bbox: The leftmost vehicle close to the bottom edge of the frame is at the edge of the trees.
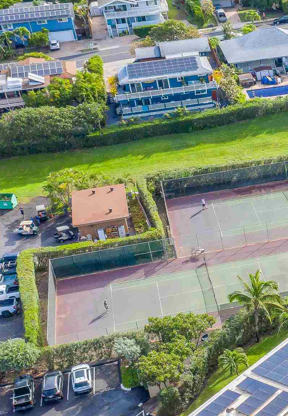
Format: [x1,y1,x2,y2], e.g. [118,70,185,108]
[6,373,38,412]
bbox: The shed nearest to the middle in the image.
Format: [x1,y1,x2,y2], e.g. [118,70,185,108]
[72,184,131,242]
